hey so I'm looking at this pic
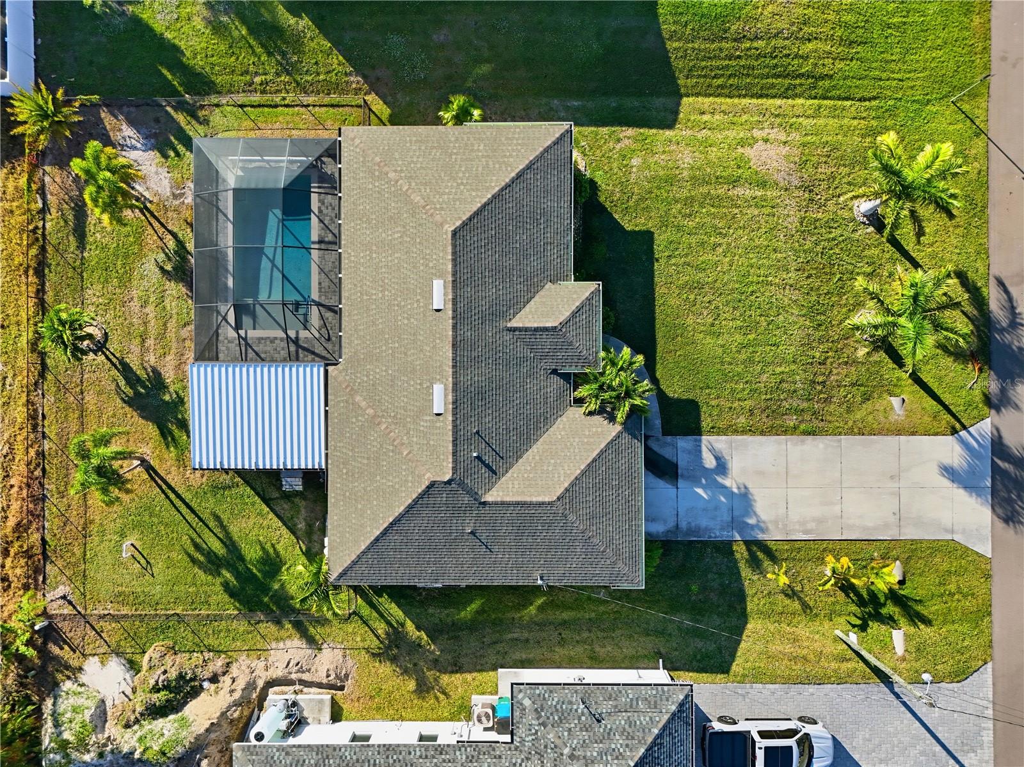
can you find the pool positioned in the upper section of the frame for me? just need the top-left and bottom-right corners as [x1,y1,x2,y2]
[226,155,318,337]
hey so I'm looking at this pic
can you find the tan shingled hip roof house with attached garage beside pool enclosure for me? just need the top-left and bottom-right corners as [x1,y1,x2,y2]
[325,122,646,589]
